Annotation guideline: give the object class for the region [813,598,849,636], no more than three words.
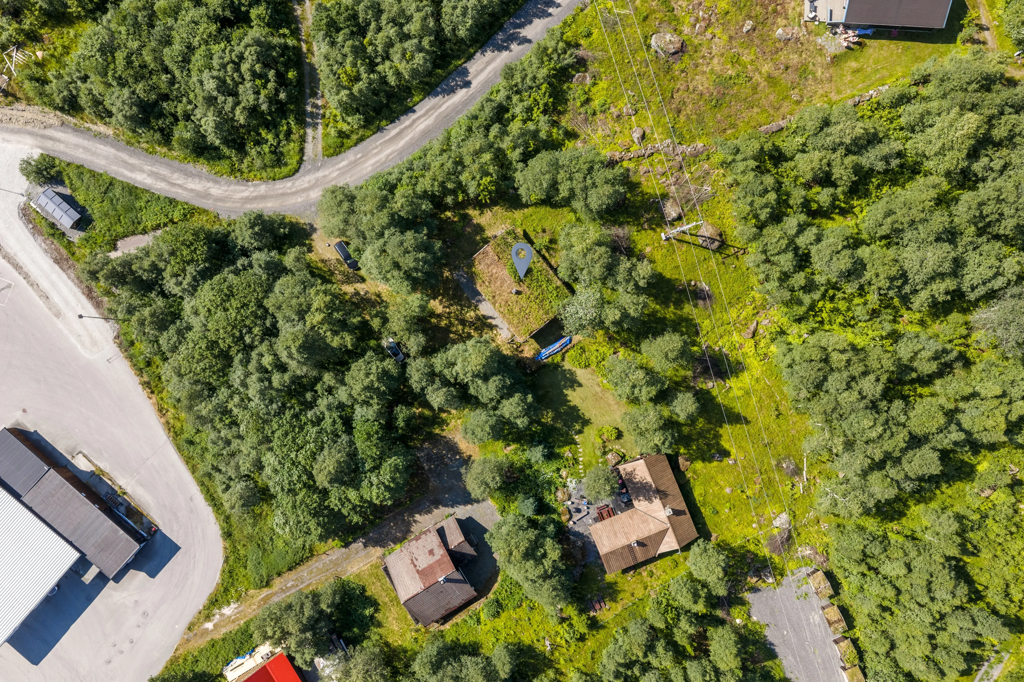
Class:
building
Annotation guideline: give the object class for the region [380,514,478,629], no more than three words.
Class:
house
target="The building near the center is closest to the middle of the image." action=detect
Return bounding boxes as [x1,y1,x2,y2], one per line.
[461,225,565,343]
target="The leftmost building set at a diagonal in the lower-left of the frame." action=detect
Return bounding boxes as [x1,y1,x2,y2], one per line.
[0,427,151,579]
